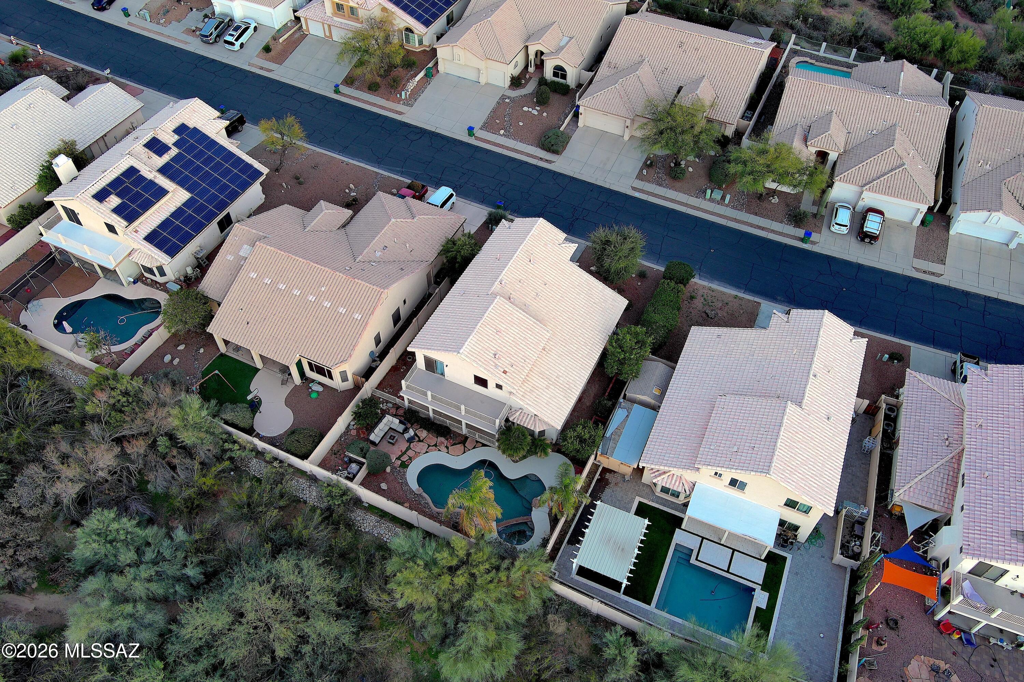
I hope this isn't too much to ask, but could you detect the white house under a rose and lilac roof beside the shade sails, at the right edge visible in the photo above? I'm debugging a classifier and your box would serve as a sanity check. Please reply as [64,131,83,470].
[890,364,1024,648]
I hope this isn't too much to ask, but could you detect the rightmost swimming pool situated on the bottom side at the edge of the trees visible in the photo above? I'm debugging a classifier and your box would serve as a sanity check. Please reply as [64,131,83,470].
[656,544,757,643]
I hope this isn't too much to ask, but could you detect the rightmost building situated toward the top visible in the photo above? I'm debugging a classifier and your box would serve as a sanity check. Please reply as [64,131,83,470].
[951,90,1024,252]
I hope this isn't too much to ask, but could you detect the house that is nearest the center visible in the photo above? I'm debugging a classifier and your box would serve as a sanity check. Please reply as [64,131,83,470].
[399,213,630,452]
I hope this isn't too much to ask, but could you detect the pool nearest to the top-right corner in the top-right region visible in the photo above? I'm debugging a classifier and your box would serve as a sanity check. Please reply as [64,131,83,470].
[795,59,853,76]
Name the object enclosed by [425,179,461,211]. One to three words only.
car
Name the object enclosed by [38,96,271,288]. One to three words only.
house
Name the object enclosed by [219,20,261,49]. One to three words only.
car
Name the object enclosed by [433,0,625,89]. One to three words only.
house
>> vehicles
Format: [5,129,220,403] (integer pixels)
[394,172,434,201]
[219,20,261,49]
[827,202,855,238]
[83,0,125,14]
[855,208,887,249]
[193,13,237,44]
[219,100,254,139]
[425,179,461,211]
[952,340,982,385]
